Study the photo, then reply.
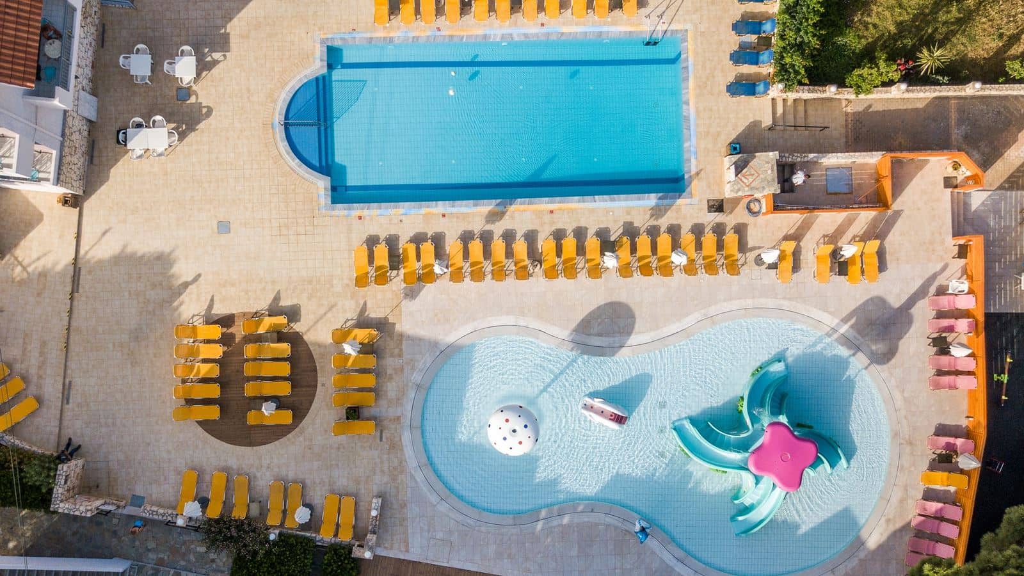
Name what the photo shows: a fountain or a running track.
fountain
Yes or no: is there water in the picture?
Yes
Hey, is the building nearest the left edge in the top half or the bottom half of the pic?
top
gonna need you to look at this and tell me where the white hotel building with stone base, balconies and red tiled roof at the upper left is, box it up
[0,0,100,194]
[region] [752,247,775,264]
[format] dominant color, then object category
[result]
white umbrella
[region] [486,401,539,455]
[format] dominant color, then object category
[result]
white fountain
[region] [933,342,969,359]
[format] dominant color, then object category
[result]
white umbrella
